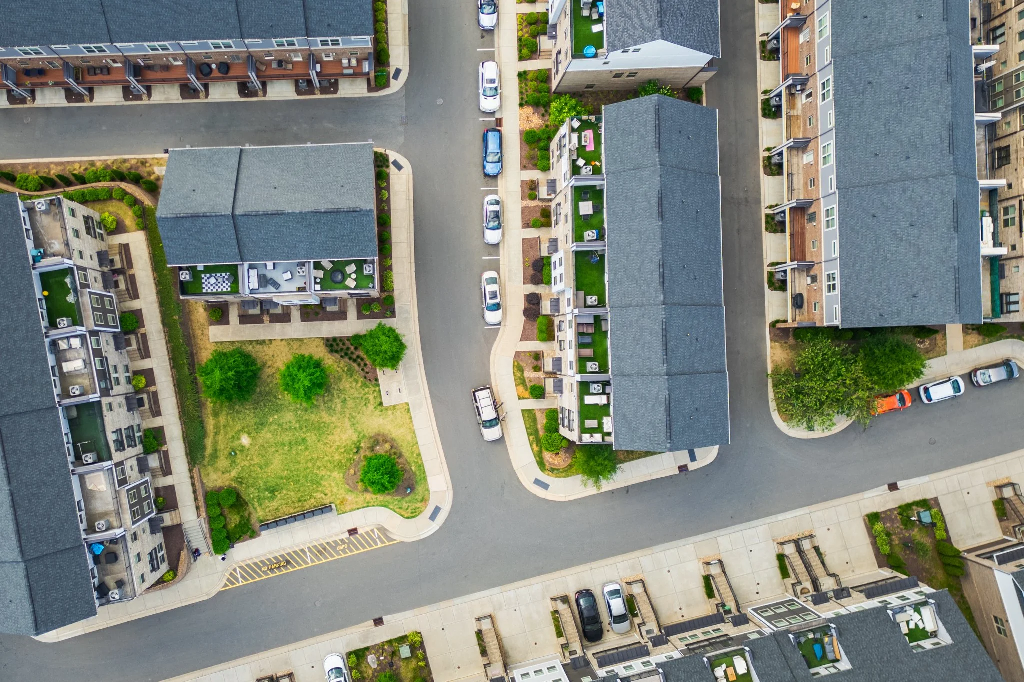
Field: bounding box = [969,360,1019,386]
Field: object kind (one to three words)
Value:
car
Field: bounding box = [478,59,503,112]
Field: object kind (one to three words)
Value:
car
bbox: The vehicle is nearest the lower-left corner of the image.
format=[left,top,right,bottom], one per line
[324,652,349,682]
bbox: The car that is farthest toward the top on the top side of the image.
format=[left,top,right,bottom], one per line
[476,0,500,30]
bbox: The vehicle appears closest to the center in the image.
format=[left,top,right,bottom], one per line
[481,271,505,324]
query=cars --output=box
[473,387,507,440]
[969,360,1019,386]
[604,581,632,634]
[870,389,914,414]
[482,127,505,176]
[918,376,965,403]
[481,271,505,324]
[478,59,503,112]
[576,589,605,641]
[482,194,505,244]
[324,652,349,682]
[476,0,500,30]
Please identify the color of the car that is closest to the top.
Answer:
white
